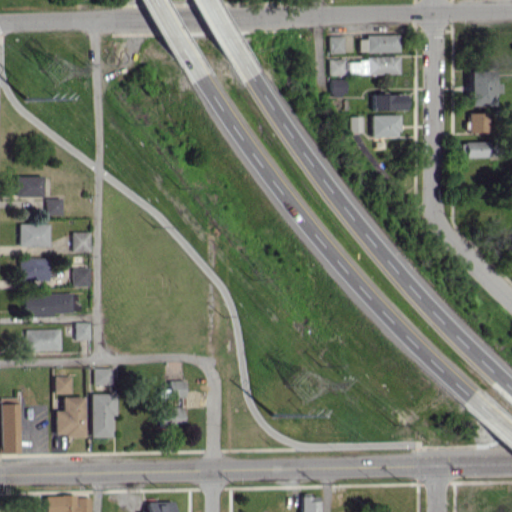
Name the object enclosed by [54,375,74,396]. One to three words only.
building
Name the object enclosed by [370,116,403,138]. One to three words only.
house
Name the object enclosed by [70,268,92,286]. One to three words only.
building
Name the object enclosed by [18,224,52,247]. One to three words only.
house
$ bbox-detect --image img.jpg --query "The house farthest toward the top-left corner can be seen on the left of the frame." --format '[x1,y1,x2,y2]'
[16,176,47,197]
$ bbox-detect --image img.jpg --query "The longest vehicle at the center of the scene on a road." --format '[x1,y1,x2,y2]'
[284,200,306,224]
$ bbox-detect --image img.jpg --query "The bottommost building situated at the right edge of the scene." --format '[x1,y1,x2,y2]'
[463,142,494,159]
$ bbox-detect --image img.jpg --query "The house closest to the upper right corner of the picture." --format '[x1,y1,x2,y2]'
[470,72,504,109]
